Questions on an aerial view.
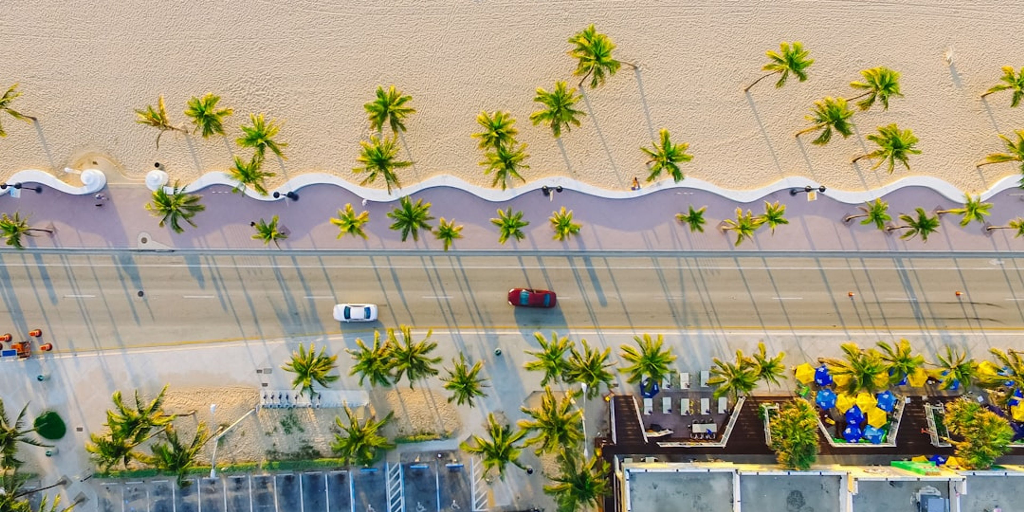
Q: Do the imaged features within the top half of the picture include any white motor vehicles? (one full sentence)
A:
No, no white motor vehicle can be made out within the top half of the picture.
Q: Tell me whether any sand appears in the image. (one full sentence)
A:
Yes, sand can be seen from above here.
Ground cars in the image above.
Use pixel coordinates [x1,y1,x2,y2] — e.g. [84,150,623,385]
[508,288,557,310]
[332,303,377,324]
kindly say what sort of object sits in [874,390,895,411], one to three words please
umbrella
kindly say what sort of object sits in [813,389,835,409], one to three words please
umbrella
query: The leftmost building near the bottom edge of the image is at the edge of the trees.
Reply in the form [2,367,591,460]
[615,463,737,512]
